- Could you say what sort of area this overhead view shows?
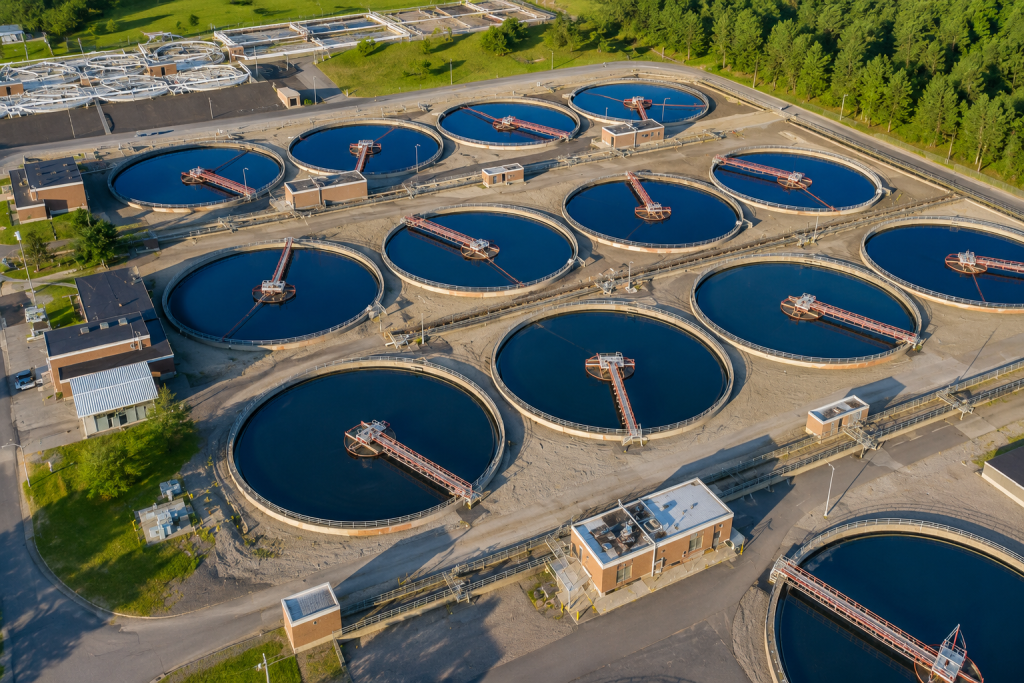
industrial area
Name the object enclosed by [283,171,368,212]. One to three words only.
house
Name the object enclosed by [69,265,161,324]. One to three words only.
building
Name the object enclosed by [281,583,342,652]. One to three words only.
shed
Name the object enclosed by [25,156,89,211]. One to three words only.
building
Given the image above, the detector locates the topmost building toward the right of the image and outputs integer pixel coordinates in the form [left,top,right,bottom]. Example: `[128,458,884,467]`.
[600,119,664,150]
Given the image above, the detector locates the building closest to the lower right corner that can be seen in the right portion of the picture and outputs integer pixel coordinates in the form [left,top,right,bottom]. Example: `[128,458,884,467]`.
[977,445,1024,513]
